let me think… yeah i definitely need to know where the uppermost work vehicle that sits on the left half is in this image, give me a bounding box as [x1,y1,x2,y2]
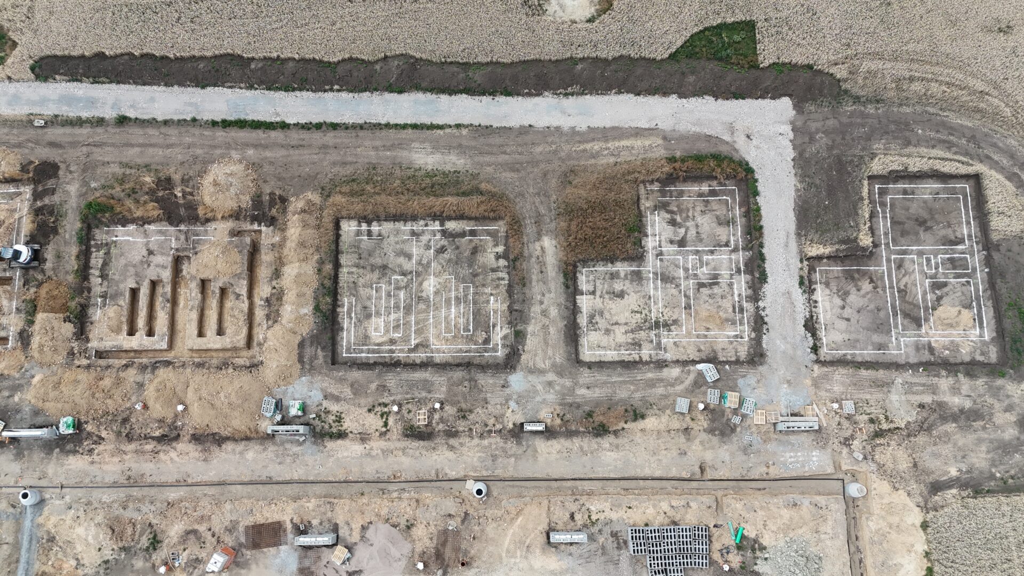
[0,240,44,266]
